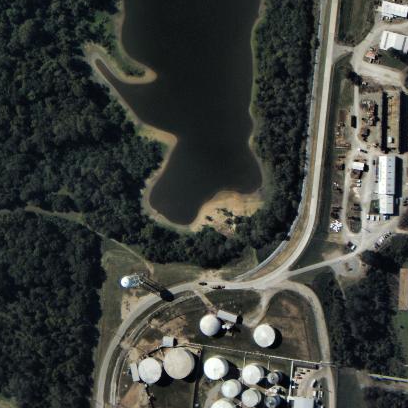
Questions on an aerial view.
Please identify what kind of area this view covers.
industrial area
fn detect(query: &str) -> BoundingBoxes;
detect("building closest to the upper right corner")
[381,1,408,17]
